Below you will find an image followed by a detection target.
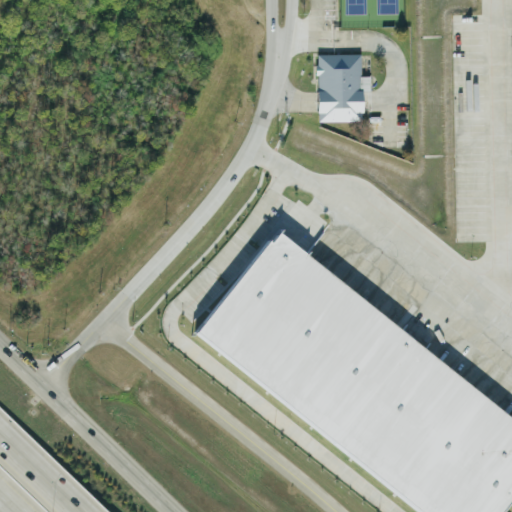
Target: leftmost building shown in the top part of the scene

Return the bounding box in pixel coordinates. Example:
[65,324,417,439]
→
[315,54,372,123]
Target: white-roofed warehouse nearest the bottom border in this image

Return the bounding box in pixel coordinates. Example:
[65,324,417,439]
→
[195,229,512,512]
